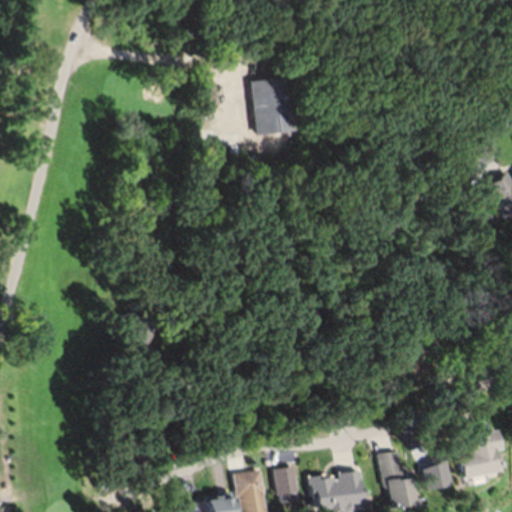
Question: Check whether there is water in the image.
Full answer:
No, no water is visible.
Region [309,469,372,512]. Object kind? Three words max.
house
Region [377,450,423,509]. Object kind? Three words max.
house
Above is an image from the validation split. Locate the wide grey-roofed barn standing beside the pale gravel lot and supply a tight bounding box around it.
[251,76,304,135]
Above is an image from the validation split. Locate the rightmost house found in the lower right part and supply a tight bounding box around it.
[466,434,511,484]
